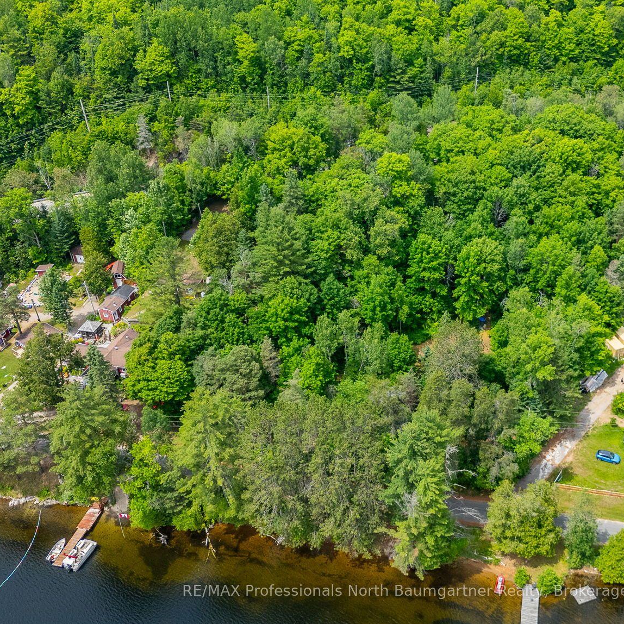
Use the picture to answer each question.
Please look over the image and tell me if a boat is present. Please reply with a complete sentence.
Yes, a boat appears in the view.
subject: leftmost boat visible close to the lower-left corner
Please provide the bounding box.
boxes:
[48,538,65,565]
